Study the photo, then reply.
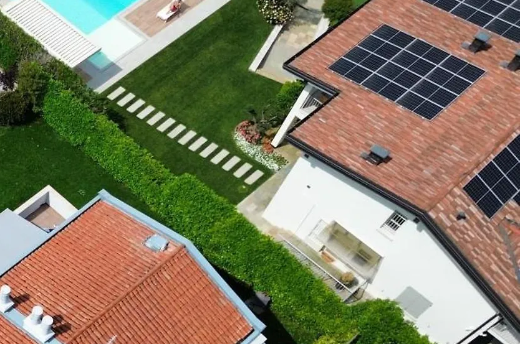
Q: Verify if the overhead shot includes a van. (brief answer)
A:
No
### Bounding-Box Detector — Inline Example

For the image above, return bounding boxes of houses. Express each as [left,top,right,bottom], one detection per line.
[263,0,520,344]
[0,185,264,344]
